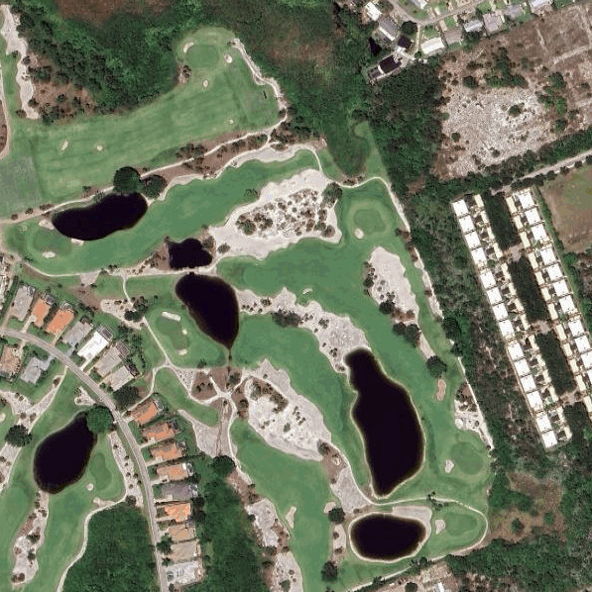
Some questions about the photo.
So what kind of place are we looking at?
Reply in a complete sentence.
The picture captures a golf course.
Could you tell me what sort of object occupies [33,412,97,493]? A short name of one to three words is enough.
pond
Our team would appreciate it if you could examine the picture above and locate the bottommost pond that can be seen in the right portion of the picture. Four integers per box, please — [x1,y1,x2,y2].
[351,514,425,561]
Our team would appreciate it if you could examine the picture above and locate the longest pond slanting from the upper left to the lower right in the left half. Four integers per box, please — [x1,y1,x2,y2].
[175,273,239,363]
